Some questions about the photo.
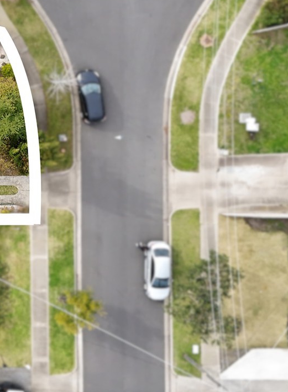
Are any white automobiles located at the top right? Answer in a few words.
No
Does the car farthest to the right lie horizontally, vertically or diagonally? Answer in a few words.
vertically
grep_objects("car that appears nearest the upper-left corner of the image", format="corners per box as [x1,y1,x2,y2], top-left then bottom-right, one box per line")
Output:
[75,68,107,124]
